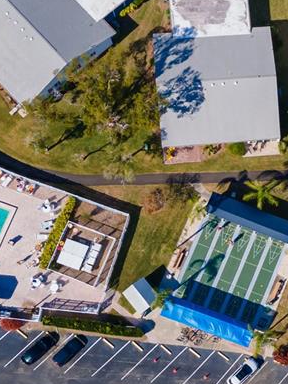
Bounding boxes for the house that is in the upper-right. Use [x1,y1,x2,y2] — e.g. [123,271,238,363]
[153,0,280,149]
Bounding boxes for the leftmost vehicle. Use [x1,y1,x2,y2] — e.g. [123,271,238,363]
[24,332,57,363]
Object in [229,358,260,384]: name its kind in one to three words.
car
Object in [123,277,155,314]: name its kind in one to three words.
shed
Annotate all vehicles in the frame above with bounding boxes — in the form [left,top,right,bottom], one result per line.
[229,358,260,384]
[24,332,57,363]
[53,335,85,367]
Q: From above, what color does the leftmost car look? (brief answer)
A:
black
